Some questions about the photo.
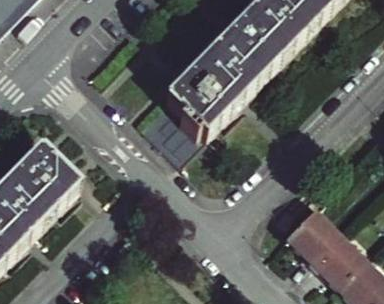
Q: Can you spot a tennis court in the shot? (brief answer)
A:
No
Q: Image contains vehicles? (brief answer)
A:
Yes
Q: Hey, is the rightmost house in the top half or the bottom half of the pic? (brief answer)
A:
bottom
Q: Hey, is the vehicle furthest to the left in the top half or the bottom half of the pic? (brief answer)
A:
top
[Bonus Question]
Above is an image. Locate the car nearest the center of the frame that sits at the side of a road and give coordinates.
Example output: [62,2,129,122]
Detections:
[175,178,194,196]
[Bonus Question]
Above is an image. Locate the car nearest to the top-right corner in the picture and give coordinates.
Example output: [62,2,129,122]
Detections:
[362,56,380,76]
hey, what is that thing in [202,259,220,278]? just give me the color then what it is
white car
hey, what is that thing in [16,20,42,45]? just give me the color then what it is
white vehicle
